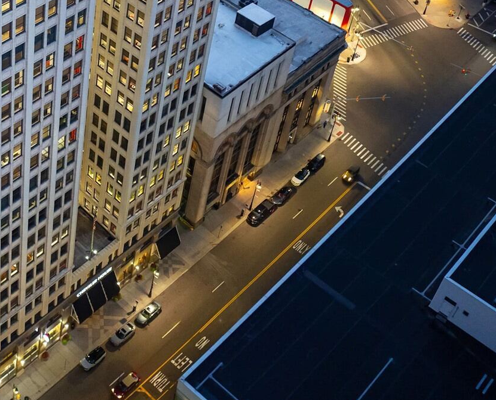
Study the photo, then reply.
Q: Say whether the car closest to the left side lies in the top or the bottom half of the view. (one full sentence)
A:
The bottom half of the photo is where the car closest to the left side is.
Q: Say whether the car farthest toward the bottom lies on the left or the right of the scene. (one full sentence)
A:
It is on the left.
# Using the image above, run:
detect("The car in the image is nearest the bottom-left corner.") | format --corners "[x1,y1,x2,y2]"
[79,346,107,372]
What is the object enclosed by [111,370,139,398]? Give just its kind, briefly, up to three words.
car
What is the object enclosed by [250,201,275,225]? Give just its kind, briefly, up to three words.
truck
